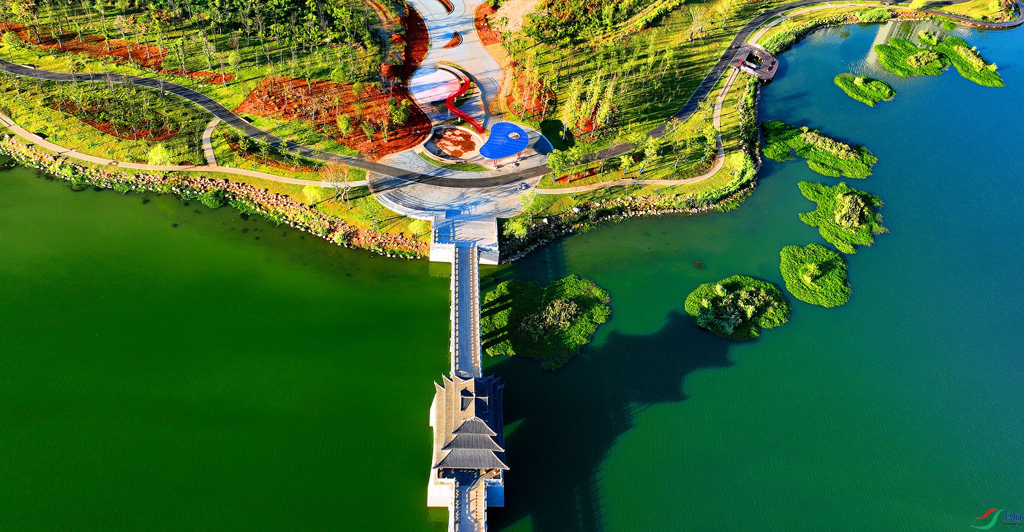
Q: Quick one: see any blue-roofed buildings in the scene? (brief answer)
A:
No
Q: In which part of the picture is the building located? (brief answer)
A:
bottom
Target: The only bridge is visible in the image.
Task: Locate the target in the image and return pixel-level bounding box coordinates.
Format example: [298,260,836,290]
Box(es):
[430,204,500,376]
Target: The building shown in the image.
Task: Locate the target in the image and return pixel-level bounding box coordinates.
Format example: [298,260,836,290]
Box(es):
[432,368,511,524]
